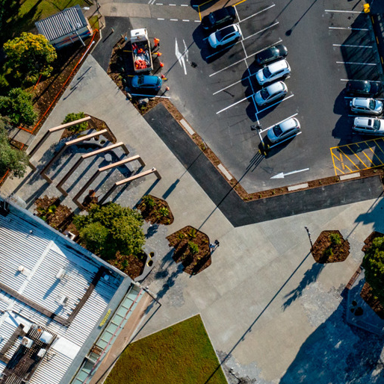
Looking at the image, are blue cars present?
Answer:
Yes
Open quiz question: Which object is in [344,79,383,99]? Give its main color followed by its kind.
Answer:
black car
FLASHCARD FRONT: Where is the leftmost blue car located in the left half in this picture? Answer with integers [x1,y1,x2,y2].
[130,76,163,95]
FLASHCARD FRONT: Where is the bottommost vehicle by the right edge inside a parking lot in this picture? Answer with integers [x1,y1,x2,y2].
[351,116,384,134]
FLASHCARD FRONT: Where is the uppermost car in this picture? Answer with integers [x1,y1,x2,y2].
[201,5,238,32]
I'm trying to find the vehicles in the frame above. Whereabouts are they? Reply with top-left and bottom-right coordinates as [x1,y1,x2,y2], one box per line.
[264,118,302,144]
[252,43,292,68]
[347,96,384,116]
[344,79,383,99]
[130,76,163,95]
[130,25,154,74]
[252,82,289,109]
[351,116,384,134]
[207,23,244,50]
[253,57,292,85]
[201,5,238,32]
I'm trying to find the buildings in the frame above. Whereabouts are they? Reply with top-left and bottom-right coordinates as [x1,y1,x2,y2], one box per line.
[35,6,99,58]
[0,195,145,384]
